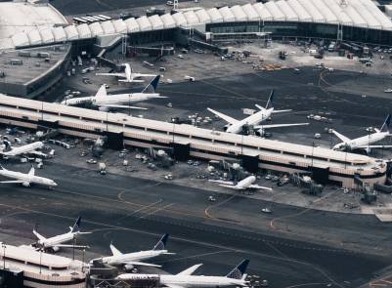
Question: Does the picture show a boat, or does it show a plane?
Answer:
plane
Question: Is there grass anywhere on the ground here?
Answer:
No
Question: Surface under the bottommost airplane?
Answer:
apron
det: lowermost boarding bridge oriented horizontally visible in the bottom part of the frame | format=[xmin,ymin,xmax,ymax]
[84,271,165,288]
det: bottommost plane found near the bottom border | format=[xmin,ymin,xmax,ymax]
[117,260,252,288]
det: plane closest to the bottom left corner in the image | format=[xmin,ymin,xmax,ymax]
[33,216,93,251]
